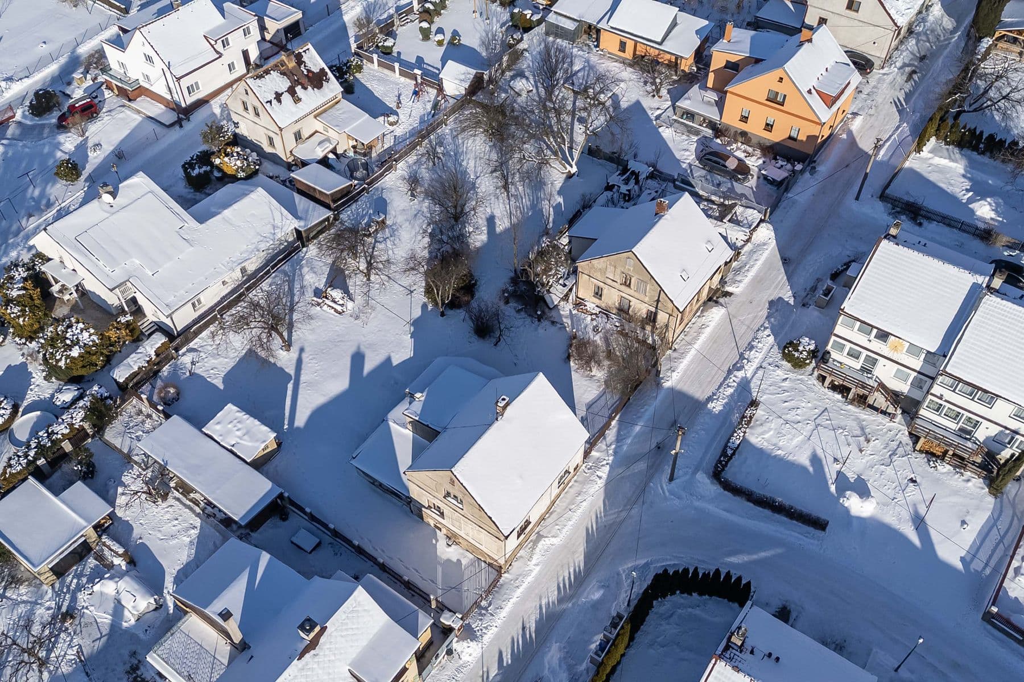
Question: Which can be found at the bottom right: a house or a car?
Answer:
house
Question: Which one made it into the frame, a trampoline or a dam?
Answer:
trampoline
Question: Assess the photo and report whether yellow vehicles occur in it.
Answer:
No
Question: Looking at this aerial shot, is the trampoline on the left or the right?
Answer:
left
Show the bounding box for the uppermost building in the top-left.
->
[254,0,304,40]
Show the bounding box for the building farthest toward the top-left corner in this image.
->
[98,0,270,114]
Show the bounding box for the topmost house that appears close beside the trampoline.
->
[225,44,389,167]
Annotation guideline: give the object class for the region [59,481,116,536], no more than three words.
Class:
building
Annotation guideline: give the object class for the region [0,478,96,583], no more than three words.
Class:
shed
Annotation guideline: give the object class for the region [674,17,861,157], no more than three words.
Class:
house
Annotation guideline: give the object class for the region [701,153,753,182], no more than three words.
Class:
car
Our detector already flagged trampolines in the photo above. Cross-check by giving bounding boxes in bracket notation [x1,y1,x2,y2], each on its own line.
[341,151,371,184]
